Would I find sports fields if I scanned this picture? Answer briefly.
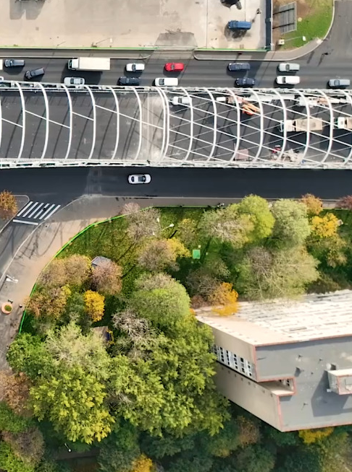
No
